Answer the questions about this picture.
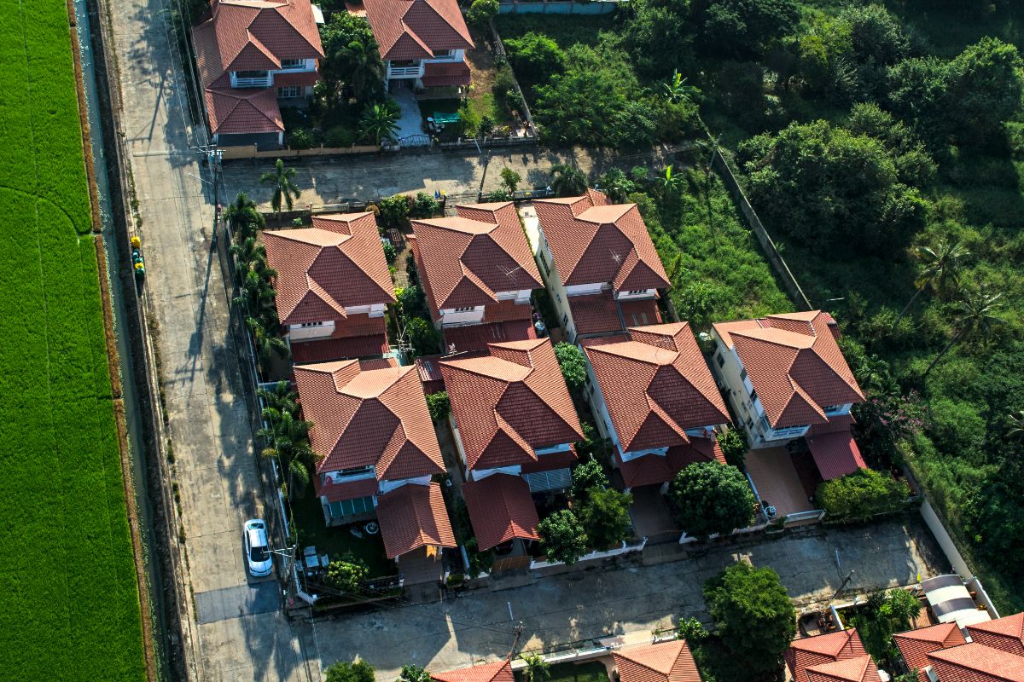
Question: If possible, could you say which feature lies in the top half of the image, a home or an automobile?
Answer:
home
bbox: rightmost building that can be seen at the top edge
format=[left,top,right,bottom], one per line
[340,0,476,112]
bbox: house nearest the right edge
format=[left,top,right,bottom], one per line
[878,614,1024,682]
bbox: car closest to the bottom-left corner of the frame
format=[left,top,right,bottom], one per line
[242,521,273,578]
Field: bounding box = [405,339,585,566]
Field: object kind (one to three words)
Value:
house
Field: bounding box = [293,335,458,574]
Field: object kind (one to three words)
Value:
house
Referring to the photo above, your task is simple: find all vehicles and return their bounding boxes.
[242,521,273,578]
[489,541,514,560]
